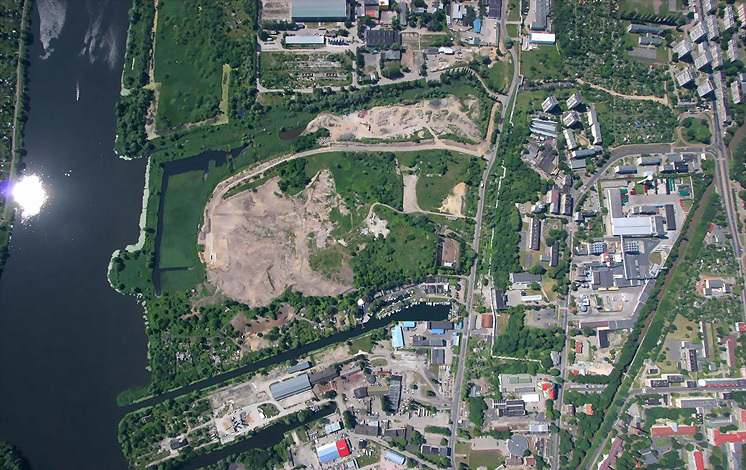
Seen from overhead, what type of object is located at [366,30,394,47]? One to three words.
building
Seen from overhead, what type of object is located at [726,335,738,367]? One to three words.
building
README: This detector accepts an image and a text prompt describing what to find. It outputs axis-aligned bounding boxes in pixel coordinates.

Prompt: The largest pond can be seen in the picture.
[152,146,245,295]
